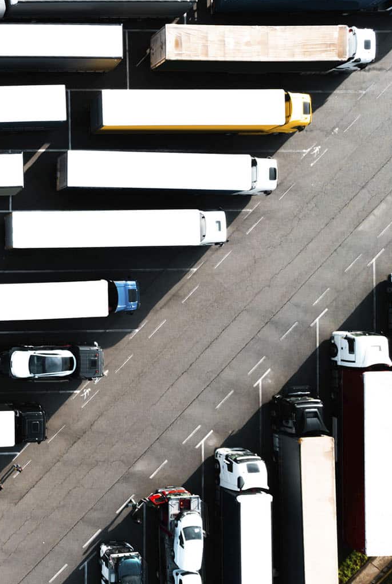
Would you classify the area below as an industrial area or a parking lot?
parking lot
